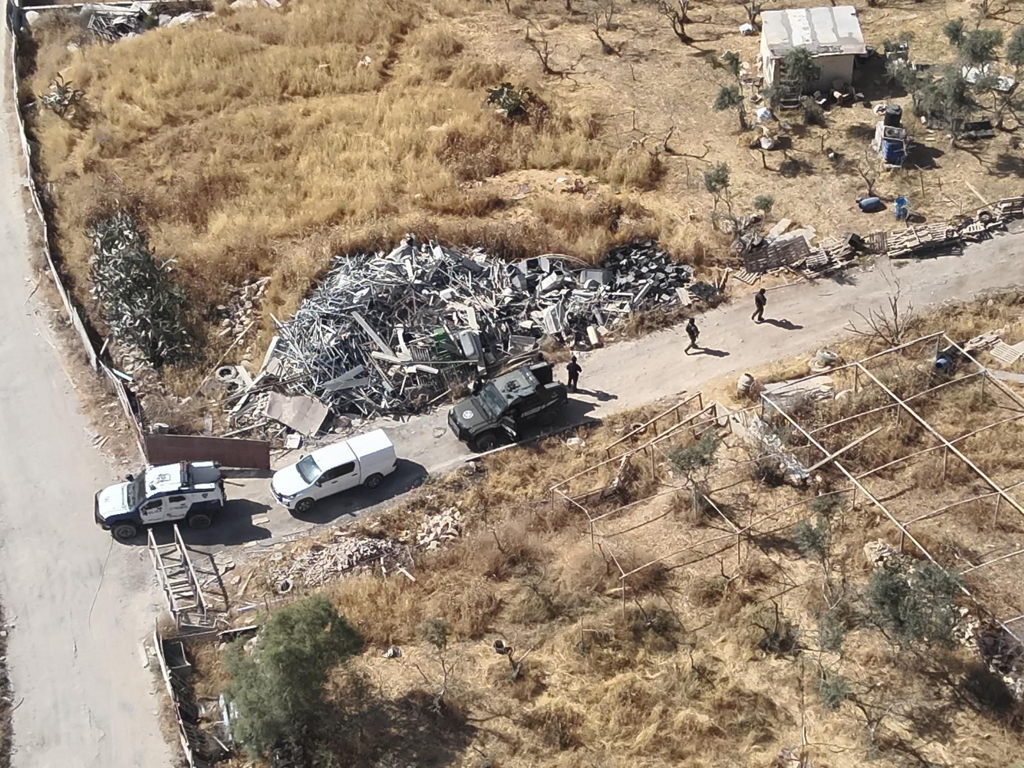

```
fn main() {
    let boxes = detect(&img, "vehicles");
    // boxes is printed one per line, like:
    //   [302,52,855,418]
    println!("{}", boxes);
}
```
[89,456,226,542]
[262,421,401,515]
[442,357,566,449]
